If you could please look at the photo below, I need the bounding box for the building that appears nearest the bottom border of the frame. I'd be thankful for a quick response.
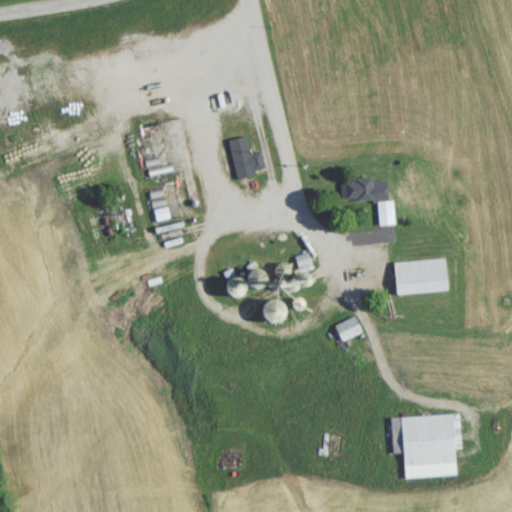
[392,414,464,480]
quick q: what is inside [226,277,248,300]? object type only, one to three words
silo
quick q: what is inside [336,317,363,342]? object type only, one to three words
shed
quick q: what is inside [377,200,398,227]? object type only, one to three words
building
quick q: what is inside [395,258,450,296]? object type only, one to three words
barn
